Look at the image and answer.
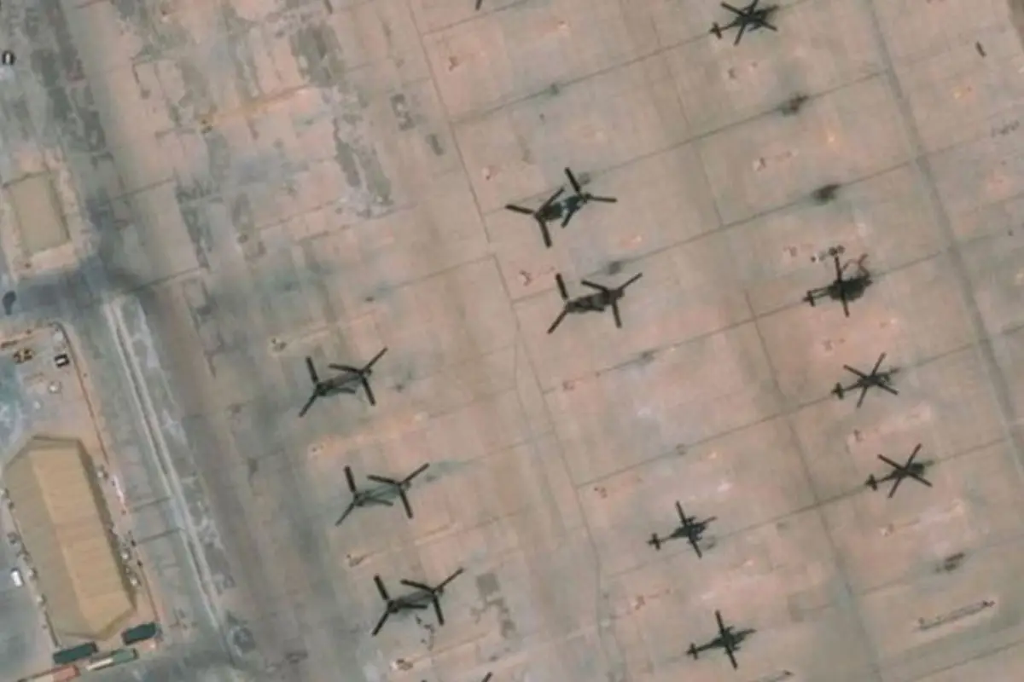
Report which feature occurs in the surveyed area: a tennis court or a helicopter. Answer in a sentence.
It is a helicopter that can be seen here.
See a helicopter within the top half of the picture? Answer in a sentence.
Yes, the scene does show a helicopter within the top half of the picture.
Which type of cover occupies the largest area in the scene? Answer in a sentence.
The scene is dominated by paved ground.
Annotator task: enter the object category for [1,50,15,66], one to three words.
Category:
vehicle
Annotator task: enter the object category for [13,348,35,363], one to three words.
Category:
work vehicle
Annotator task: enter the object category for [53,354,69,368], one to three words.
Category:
vehicle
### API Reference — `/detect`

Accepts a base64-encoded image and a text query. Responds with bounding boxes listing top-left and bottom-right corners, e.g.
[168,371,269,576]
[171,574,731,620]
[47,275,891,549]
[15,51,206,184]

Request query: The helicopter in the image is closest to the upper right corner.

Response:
[711,0,776,44]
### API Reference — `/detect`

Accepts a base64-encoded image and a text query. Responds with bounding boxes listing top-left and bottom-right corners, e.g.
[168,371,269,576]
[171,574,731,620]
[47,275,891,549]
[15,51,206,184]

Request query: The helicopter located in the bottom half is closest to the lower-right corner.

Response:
[866,444,931,497]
